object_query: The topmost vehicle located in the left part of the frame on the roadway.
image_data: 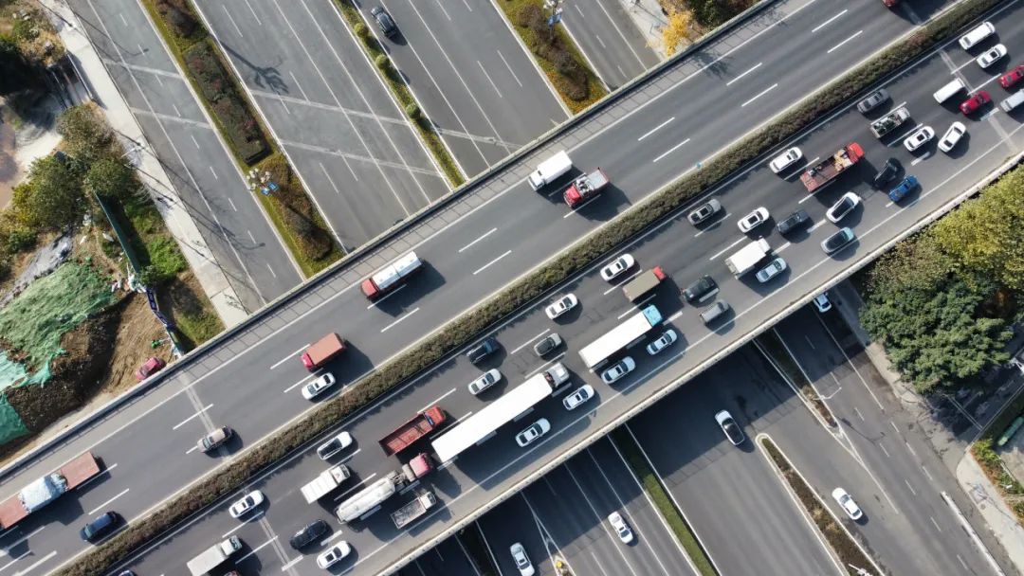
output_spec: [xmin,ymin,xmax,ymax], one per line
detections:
[372,7,394,37]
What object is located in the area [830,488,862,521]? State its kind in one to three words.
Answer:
car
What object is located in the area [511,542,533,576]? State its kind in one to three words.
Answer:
car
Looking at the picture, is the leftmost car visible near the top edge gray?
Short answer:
Yes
